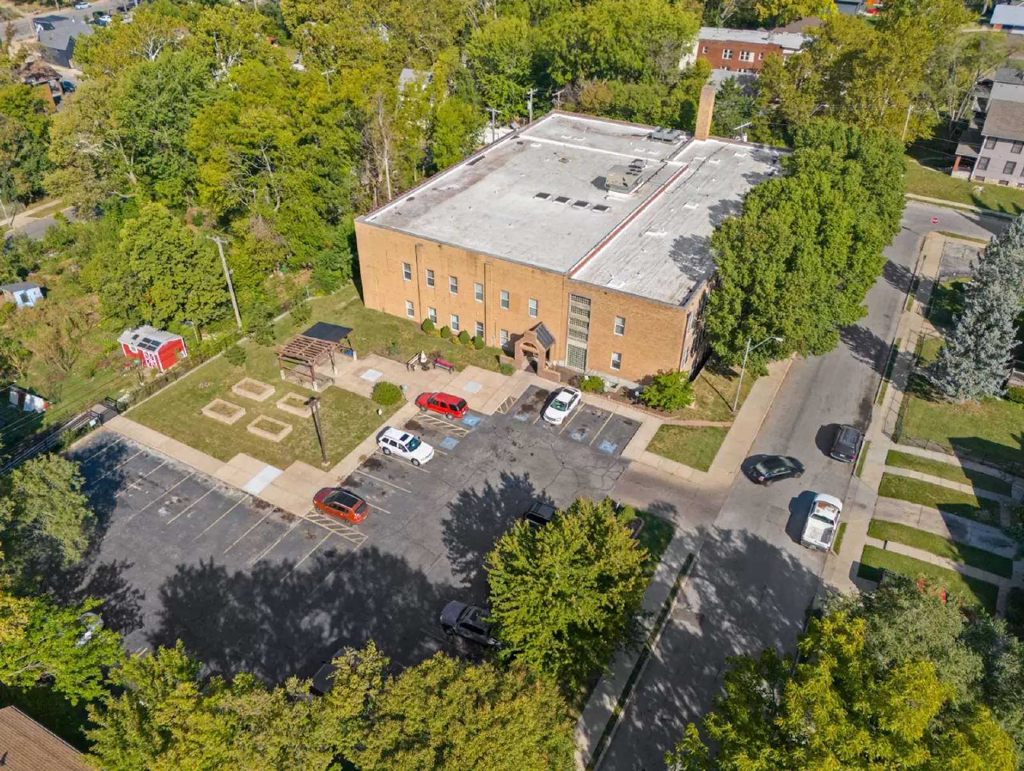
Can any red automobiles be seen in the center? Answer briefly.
Yes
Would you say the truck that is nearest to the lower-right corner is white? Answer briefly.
Yes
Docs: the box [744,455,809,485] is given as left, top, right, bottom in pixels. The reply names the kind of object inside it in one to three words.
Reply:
car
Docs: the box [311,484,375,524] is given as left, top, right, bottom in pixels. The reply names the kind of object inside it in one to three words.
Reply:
car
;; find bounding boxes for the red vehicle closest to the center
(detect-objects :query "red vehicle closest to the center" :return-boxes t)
[414,391,472,424]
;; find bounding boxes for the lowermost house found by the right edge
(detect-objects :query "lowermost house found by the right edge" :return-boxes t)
[942,104,1024,189]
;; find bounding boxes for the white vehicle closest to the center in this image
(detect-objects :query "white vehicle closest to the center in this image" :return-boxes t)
[542,385,584,424]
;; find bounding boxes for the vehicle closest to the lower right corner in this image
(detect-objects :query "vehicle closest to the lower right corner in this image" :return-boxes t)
[799,490,846,551]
